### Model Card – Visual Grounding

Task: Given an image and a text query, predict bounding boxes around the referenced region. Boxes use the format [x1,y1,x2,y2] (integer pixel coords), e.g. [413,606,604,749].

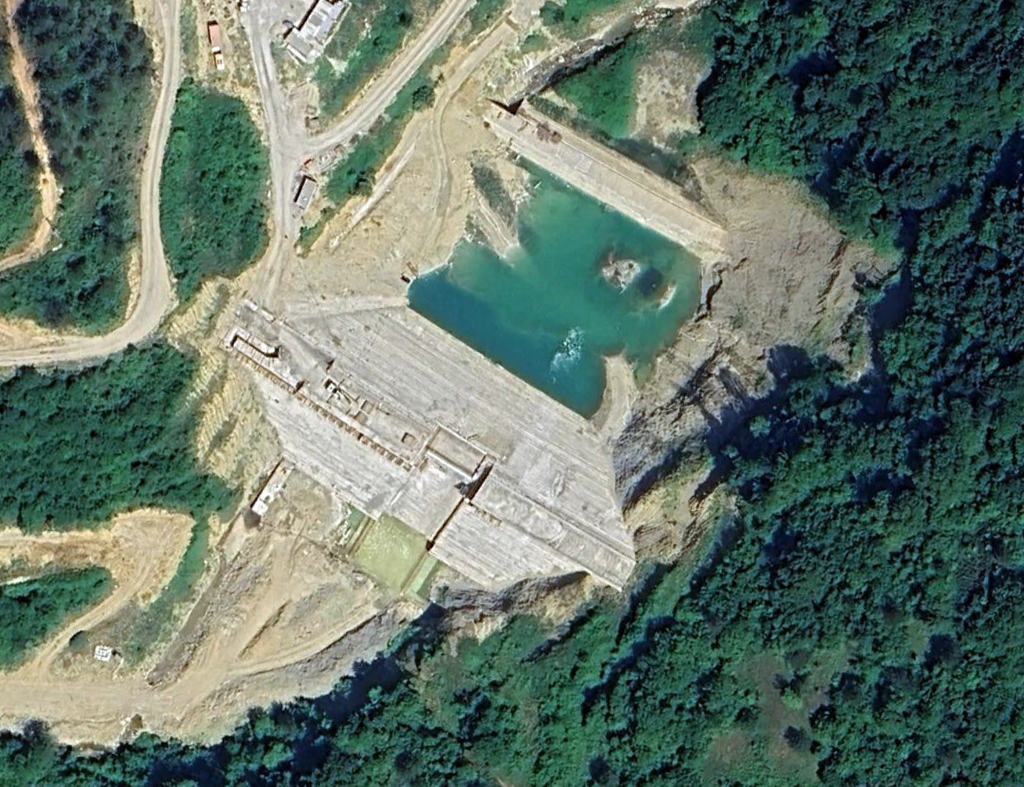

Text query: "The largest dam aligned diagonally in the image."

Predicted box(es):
[223,298,638,593]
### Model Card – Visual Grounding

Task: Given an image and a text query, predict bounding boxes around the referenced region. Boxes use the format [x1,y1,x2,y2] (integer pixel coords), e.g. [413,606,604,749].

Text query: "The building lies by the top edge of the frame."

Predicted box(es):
[286,0,349,60]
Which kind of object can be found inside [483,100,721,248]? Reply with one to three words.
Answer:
dam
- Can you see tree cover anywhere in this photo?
Yes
